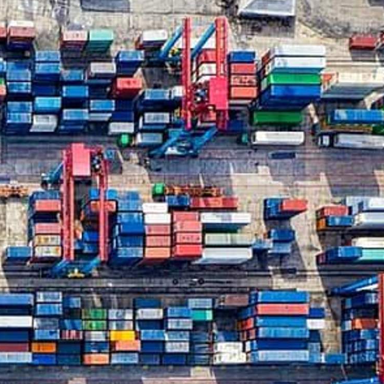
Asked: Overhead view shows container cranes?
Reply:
Yes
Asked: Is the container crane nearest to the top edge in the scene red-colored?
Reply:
Yes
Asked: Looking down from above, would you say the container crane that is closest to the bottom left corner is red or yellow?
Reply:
red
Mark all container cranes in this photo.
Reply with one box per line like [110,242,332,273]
[148,19,228,164]
[328,272,384,384]
[40,141,110,283]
